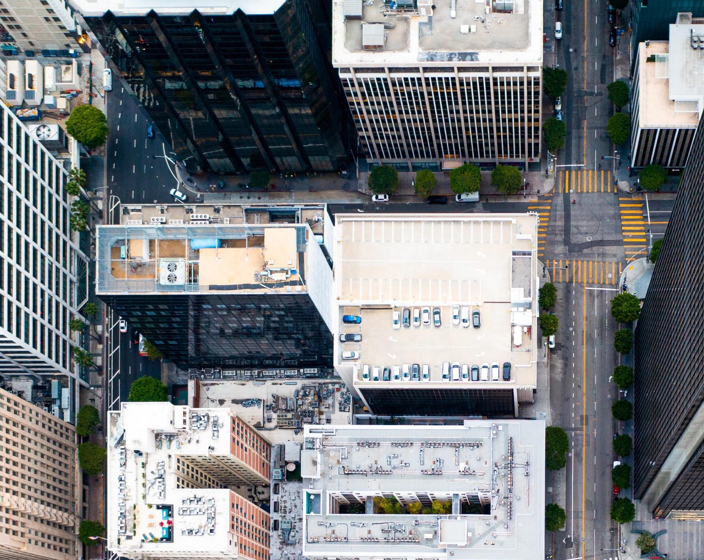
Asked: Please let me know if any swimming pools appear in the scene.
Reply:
No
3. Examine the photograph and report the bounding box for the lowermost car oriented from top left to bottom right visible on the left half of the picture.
[170,189,188,202]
